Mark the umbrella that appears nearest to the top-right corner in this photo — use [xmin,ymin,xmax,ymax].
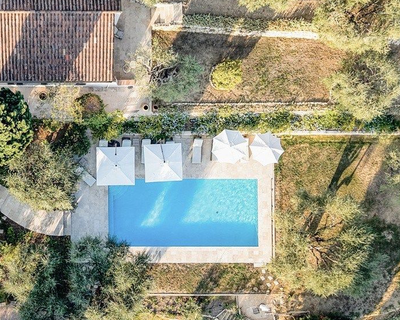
[250,130,284,165]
